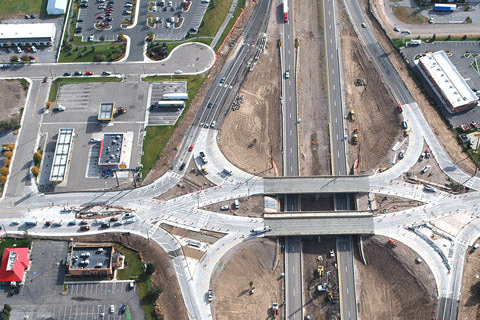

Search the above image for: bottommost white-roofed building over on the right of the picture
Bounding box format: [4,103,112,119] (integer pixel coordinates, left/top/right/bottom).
[414,49,479,115]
